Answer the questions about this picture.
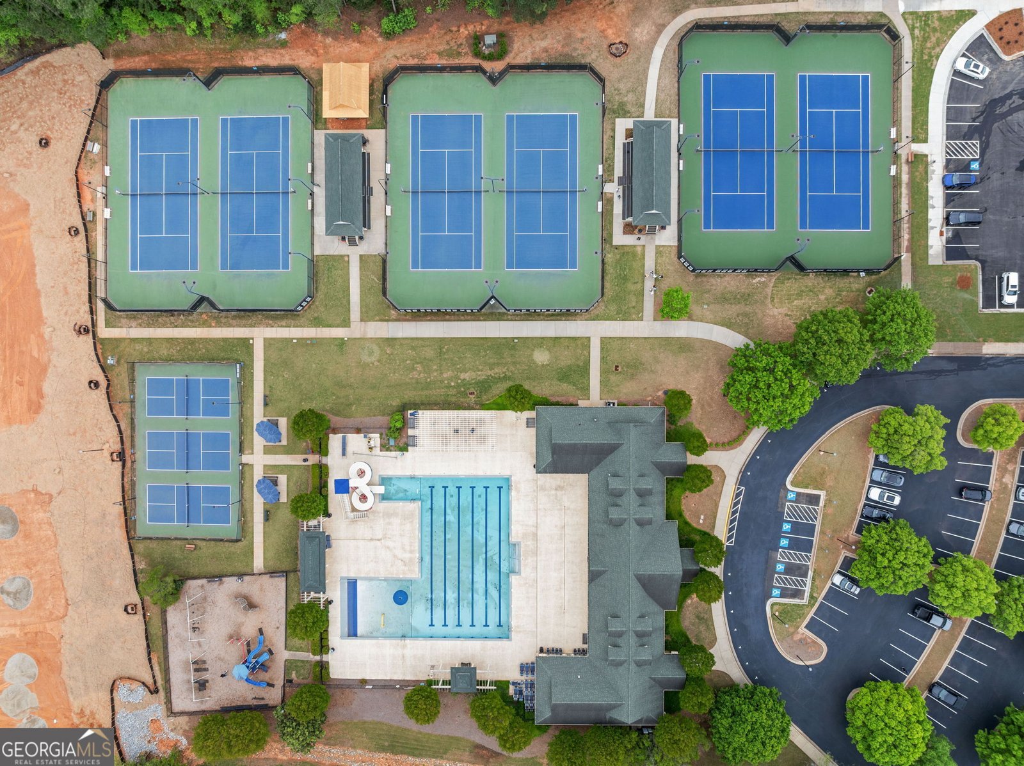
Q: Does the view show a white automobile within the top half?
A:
Yes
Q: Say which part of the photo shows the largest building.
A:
bottom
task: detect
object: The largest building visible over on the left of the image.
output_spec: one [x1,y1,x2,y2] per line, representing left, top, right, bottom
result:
[324,132,372,246]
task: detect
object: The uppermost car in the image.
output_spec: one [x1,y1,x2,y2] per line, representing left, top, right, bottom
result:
[952,59,988,80]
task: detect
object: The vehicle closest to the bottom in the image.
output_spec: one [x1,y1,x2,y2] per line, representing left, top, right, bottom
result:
[926,682,968,713]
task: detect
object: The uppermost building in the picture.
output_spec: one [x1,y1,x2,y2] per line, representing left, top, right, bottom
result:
[322,62,371,122]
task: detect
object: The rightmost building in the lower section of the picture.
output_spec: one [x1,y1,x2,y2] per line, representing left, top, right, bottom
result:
[534,406,701,726]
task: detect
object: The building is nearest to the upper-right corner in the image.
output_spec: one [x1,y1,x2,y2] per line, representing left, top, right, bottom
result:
[622,119,671,234]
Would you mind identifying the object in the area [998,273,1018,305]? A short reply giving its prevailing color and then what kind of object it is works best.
white car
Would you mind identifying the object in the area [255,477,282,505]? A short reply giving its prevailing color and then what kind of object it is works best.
blue umbrella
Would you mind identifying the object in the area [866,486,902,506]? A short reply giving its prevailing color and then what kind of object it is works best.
white car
